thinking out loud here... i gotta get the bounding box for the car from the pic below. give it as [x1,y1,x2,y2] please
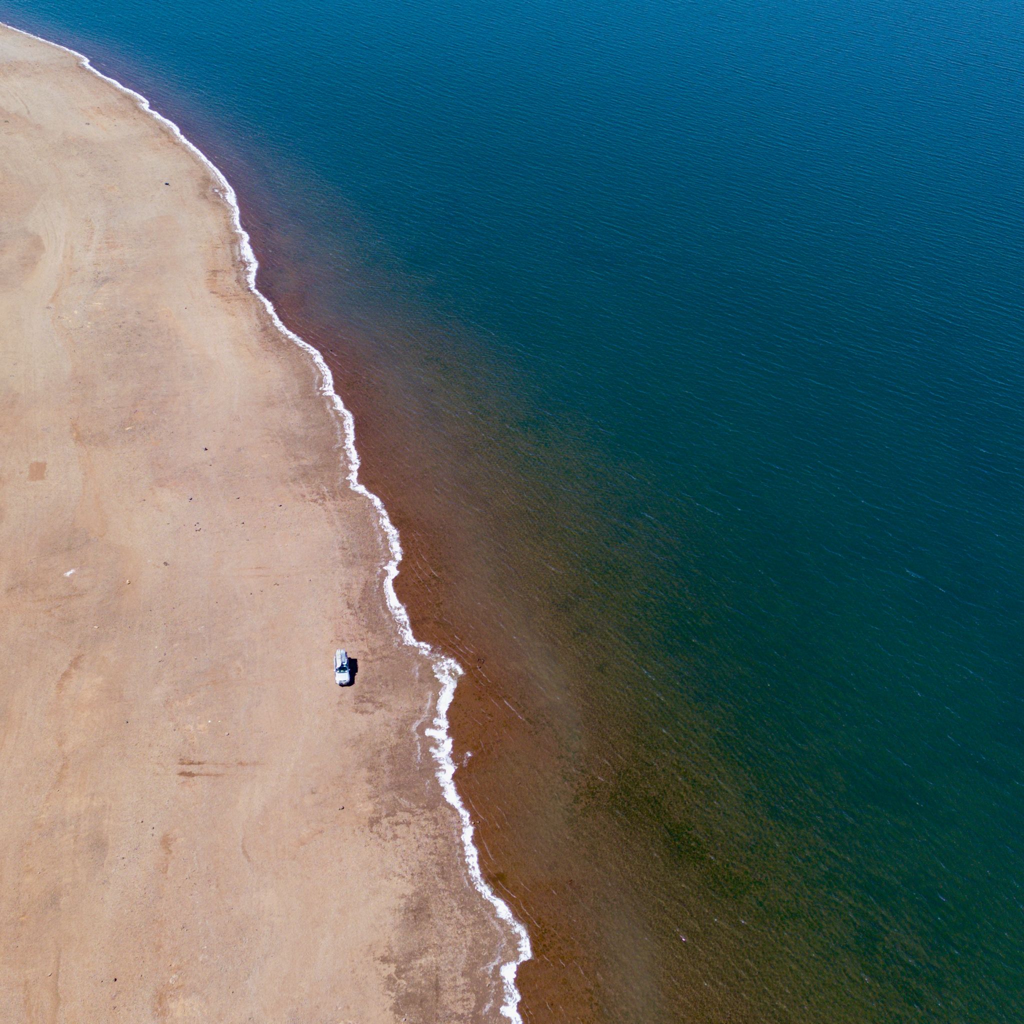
[334,650,351,686]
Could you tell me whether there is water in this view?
Yes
